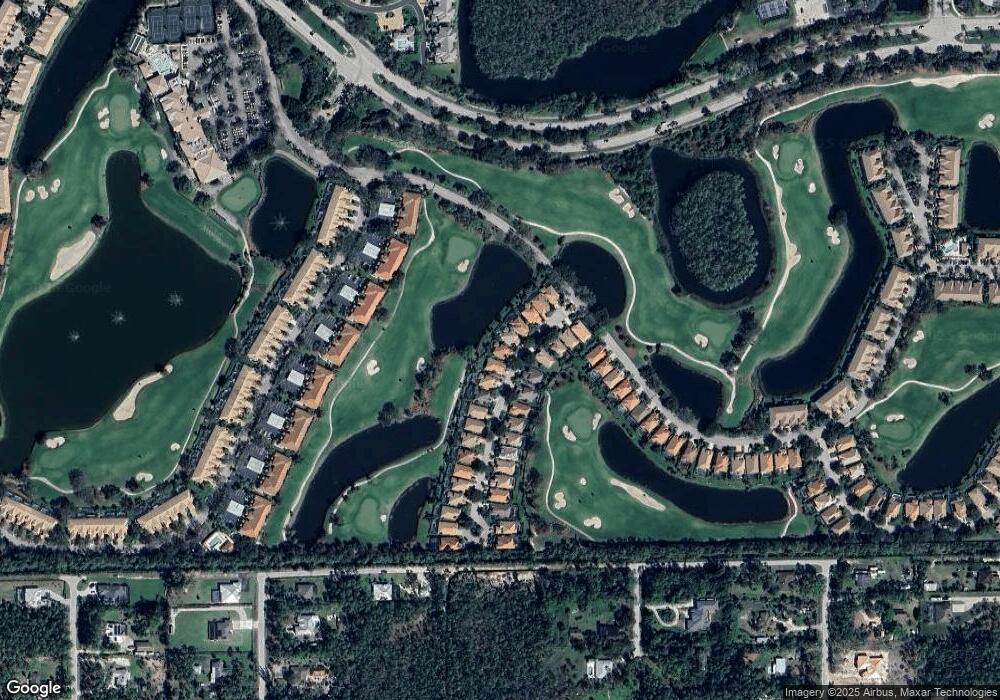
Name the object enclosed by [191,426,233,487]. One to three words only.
building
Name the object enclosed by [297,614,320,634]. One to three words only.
shed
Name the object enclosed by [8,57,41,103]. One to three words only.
building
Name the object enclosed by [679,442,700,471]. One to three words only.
house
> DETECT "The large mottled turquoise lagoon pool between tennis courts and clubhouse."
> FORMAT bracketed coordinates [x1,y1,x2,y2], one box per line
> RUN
[146,45,182,76]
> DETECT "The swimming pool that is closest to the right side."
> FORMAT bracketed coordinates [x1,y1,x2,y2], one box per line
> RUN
[944,235,969,257]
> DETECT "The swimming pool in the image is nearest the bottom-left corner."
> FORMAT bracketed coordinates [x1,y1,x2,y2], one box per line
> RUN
[202,532,232,552]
